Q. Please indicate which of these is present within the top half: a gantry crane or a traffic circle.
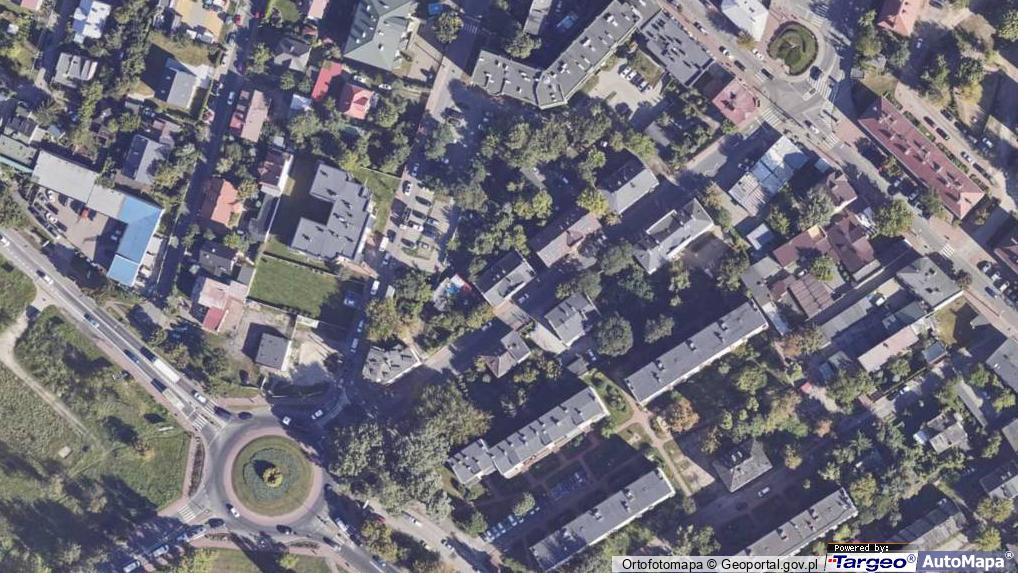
traffic circle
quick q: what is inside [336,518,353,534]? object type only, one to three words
vehicle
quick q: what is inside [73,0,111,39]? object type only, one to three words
house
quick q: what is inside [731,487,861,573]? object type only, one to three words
building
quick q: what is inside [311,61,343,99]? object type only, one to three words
shed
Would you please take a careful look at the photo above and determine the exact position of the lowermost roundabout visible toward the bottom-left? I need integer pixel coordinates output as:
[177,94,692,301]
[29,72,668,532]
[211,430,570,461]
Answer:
[207,410,336,541]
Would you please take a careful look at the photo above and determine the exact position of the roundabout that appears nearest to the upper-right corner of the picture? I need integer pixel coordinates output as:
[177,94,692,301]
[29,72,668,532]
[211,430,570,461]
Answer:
[746,0,838,98]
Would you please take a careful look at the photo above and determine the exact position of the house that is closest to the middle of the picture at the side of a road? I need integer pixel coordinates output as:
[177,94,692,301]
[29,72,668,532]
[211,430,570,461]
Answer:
[474,252,537,307]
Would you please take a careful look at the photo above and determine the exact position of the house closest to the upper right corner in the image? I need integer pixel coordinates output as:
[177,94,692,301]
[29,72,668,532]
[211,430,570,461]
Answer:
[877,0,922,38]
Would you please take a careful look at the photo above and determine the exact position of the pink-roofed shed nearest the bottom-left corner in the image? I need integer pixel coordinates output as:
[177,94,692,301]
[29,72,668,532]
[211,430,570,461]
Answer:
[202,308,228,332]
